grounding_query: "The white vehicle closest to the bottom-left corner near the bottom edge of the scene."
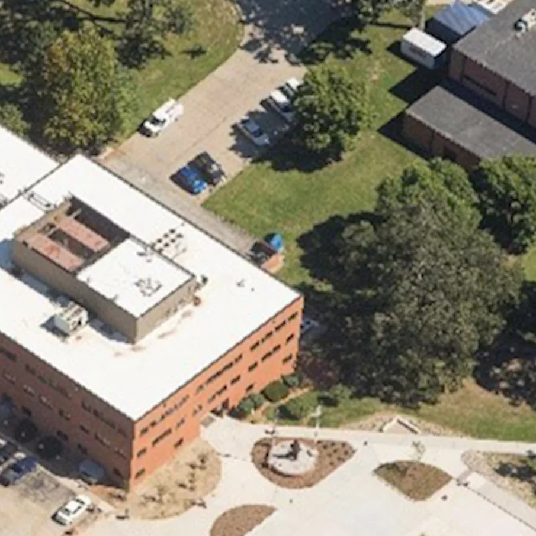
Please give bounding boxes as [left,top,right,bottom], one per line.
[54,495,93,527]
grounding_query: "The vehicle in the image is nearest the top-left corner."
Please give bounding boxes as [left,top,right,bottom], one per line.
[141,100,185,135]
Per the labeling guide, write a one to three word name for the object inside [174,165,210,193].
car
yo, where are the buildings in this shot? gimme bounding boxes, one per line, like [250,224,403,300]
[402,0,536,172]
[0,125,302,492]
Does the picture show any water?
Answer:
No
